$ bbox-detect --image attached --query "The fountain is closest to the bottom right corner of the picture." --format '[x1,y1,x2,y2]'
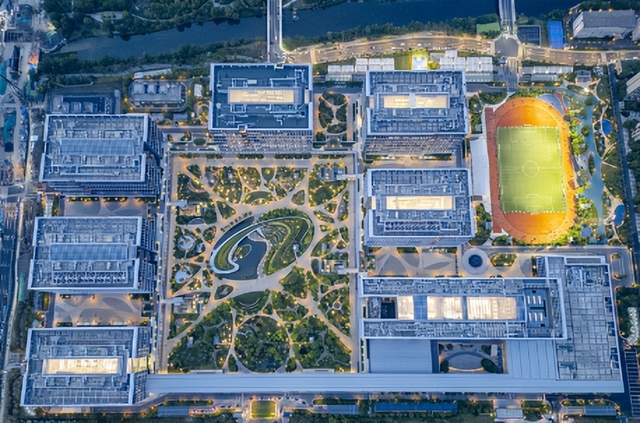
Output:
[461,247,489,275]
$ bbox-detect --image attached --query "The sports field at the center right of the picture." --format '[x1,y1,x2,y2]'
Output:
[485,97,579,244]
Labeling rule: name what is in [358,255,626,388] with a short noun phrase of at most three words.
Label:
building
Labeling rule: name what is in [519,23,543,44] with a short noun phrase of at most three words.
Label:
sports court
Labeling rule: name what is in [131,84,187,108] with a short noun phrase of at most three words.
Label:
building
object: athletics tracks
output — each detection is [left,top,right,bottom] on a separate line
[485,97,579,244]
